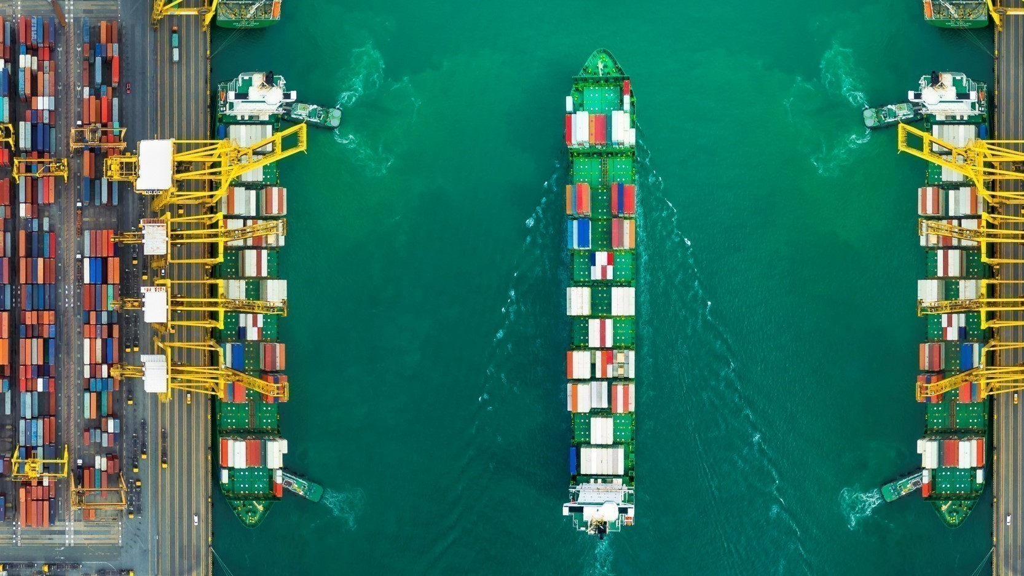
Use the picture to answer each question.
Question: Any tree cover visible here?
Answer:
No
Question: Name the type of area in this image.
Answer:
port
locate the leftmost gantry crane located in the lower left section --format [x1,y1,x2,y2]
[11,443,69,480]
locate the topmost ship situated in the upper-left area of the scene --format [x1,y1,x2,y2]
[217,0,283,31]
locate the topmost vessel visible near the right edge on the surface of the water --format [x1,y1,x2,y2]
[923,0,989,31]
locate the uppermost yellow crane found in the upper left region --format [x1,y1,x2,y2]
[152,0,219,35]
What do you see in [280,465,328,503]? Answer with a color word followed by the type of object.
green boat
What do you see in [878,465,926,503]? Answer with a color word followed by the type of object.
green boat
